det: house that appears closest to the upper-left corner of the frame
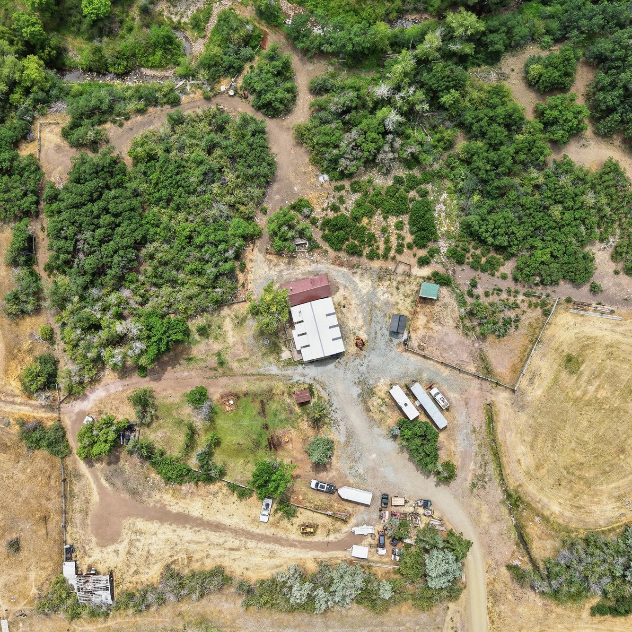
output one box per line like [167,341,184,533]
[282,275,332,307]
